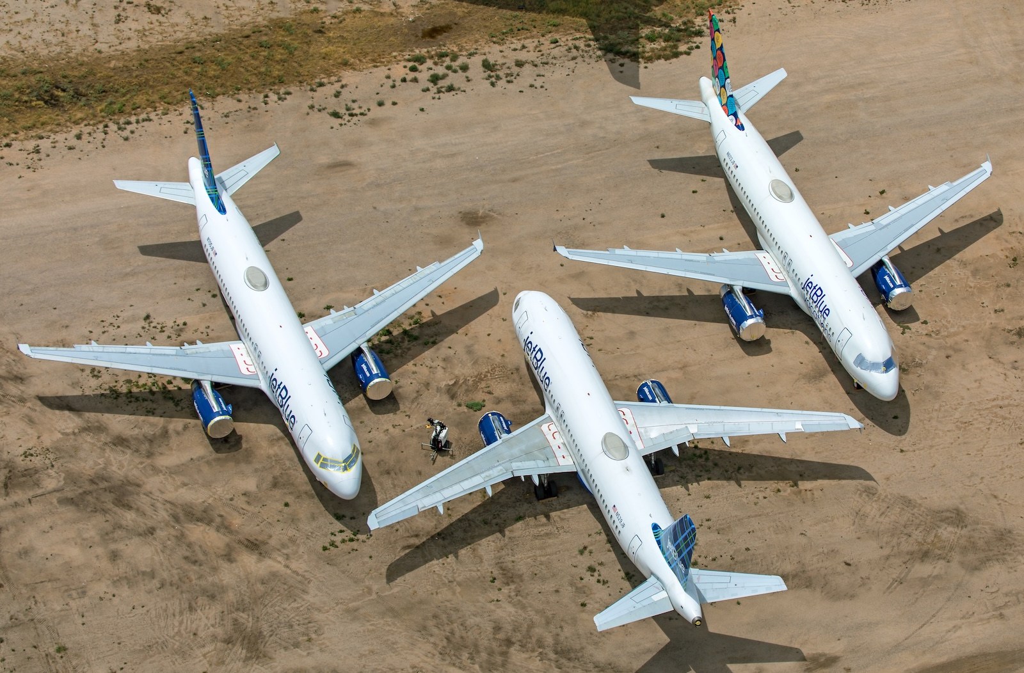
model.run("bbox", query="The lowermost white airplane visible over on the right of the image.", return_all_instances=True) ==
[368,287,863,632]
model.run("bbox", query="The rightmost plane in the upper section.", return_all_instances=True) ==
[553,11,993,400]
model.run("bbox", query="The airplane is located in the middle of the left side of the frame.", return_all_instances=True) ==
[16,93,484,497]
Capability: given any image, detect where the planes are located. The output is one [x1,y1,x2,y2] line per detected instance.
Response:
[368,287,863,632]
[553,11,993,400]
[16,93,484,497]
